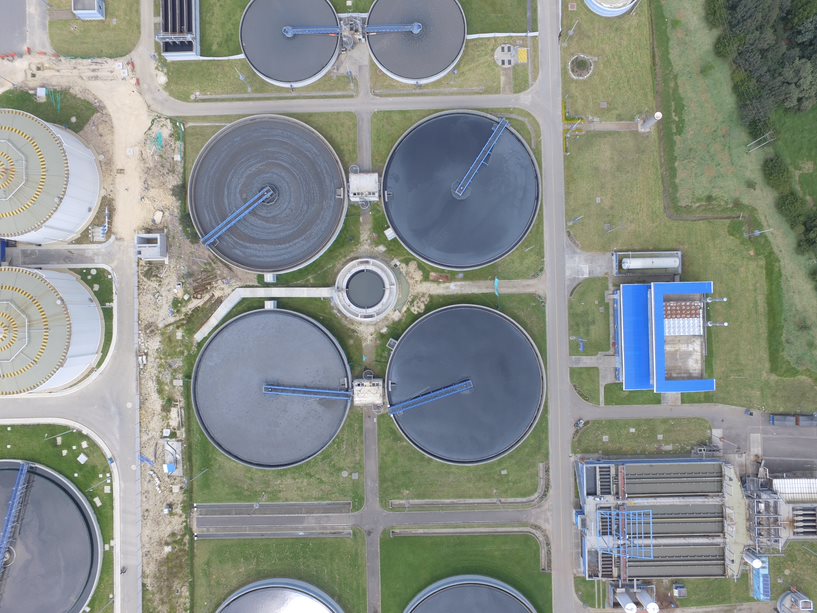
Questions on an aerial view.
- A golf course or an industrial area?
industrial area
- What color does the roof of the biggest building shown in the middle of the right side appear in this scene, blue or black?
blue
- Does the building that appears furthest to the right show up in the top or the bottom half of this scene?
bottom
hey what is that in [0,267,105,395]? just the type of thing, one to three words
storage tank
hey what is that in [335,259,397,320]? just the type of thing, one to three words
storage tank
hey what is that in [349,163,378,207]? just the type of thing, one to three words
building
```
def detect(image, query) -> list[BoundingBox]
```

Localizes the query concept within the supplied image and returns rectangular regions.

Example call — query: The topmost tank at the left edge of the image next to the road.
[0,107,104,246]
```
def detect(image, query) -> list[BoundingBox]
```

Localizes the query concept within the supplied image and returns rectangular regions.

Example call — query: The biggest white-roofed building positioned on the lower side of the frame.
[353,371,383,413]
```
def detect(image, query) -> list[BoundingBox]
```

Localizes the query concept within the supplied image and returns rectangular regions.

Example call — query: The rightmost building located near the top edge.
[340,15,369,54]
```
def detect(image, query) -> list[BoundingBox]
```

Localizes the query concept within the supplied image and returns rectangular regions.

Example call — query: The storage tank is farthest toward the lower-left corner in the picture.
[0,460,105,613]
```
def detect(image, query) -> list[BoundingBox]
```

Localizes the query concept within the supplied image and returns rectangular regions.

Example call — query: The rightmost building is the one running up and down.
[751,552,772,602]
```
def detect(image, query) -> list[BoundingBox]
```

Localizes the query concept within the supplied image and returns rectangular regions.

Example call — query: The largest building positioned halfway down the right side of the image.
[609,281,716,393]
